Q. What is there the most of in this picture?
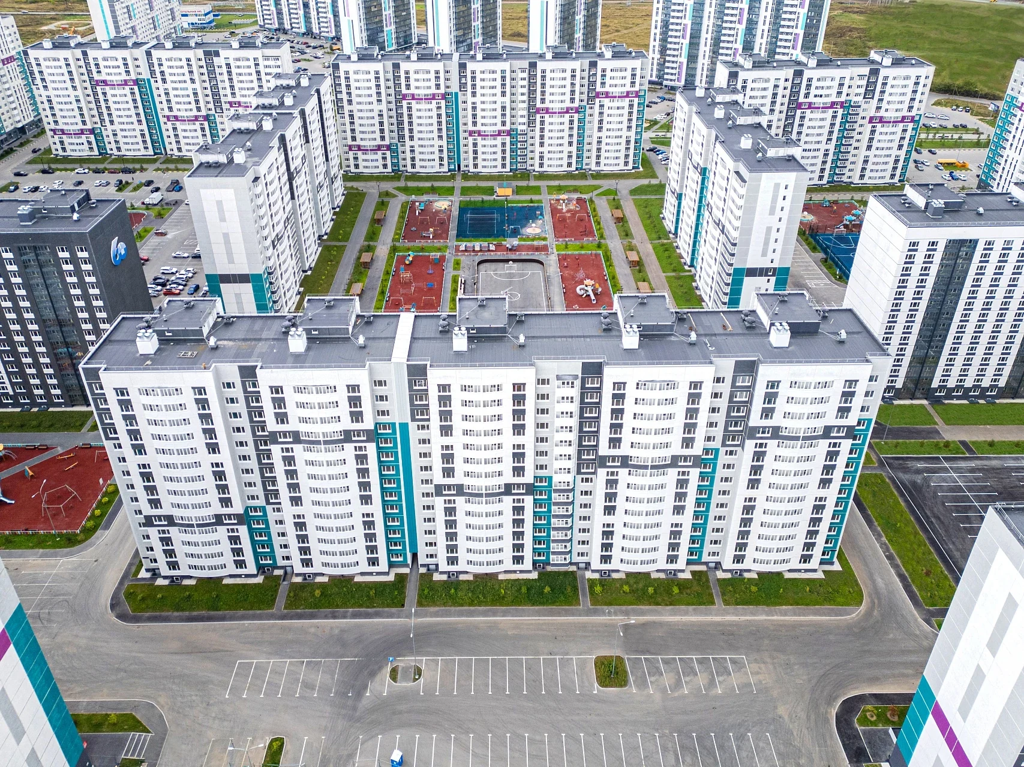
buildings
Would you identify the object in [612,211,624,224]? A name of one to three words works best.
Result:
gazebo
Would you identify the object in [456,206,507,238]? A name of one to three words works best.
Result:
sports court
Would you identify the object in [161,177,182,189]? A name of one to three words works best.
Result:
vehicle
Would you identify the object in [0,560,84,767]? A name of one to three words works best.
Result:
building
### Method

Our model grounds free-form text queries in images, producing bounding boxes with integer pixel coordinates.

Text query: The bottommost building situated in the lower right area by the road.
[900,501,1024,767]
